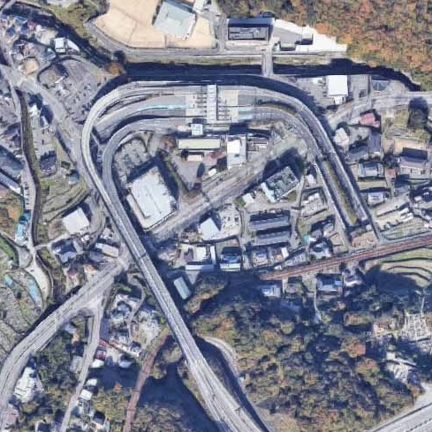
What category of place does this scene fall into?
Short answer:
residential area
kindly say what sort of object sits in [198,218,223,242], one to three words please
building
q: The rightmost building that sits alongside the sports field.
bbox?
[227,20,271,45]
